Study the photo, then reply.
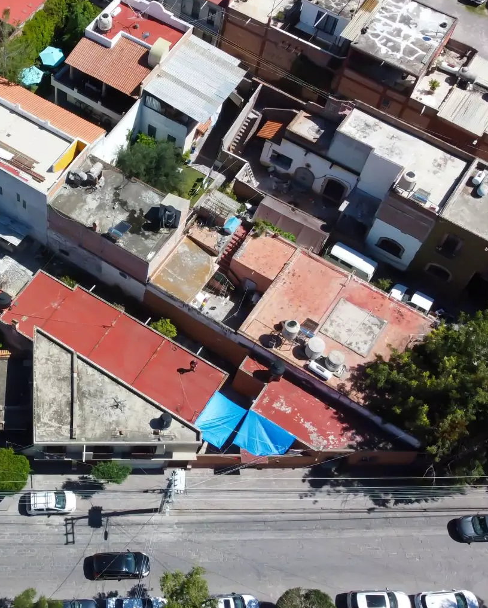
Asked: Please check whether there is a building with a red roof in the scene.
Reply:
Yes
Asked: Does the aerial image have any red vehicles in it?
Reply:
No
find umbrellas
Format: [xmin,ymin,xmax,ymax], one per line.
[16,69,46,91]
[37,50,67,79]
